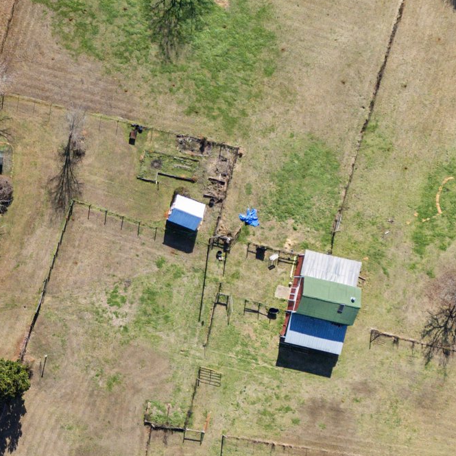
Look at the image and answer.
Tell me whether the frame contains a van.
No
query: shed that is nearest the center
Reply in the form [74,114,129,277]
[167,194,211,232]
